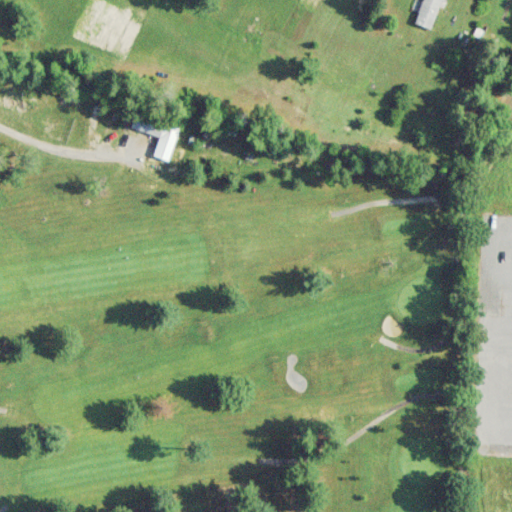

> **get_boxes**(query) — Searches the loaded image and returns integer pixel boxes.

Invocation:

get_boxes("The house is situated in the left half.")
[136,122,180,164]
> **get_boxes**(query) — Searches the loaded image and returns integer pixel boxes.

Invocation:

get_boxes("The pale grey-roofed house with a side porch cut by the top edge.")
[416,0,448,30]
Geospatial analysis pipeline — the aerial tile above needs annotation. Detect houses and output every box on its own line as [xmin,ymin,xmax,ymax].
[136,122,180,164]
[416,0,448,30]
